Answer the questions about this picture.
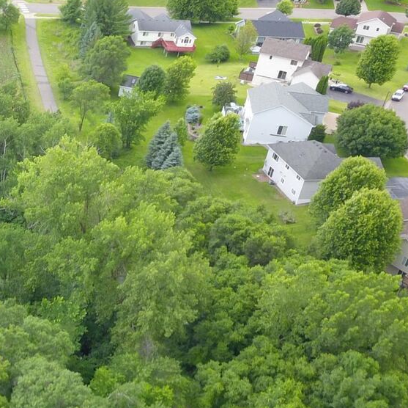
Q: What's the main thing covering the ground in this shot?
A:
trees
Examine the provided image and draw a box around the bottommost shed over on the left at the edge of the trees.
[118,78,140,97]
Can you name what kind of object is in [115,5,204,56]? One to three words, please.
house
